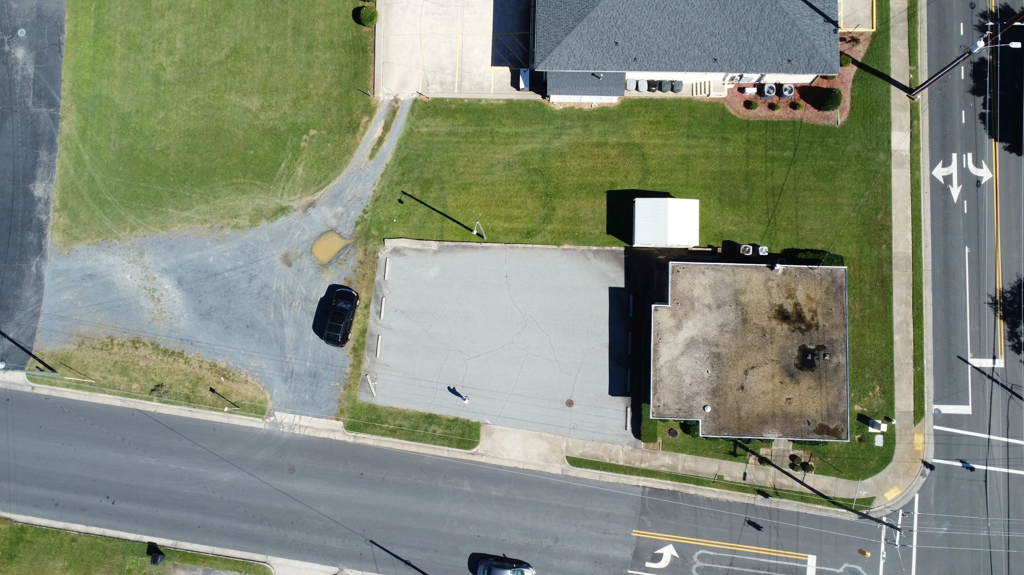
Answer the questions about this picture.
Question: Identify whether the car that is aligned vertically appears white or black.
black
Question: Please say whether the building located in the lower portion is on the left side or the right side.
right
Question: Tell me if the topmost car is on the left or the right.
left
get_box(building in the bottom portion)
[648,262,849,441]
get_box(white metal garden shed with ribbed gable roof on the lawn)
[633,196,699,248]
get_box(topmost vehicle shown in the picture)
[319,285,357,349]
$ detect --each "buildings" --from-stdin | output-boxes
[633,196,699,248]
[534,0,841,84]
[648,262,849,441]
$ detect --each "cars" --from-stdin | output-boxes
[476,558,538,575]
[319,285,357,349]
